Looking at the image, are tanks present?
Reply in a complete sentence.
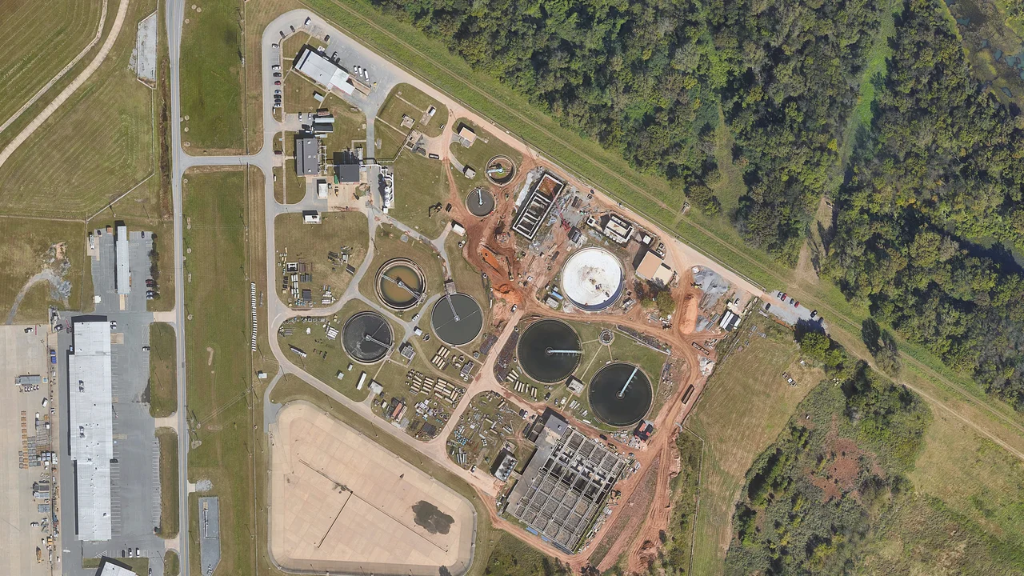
Yes, this view includes a tank.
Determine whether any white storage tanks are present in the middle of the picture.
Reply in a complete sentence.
Yes, a white storage tank appears in the middle of the picture.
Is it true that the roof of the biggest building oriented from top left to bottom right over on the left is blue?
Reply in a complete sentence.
No, the roof of the biggest building oriented from top left to bottom right over on the left is actually white.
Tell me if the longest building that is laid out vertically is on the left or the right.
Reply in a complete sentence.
The longest building that is laid out vertically sits on the left side.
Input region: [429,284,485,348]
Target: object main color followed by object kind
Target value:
gray storage tank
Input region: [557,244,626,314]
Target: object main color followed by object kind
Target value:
white storage tank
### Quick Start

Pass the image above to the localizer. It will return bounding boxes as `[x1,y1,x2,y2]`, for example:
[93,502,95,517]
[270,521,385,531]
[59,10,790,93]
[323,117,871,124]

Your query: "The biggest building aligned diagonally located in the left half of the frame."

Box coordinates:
[295,48,357,98]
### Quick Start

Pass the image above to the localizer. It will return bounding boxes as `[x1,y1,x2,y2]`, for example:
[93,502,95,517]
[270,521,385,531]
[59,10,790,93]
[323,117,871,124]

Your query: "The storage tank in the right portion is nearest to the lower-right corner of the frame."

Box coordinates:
[587,361,654,428]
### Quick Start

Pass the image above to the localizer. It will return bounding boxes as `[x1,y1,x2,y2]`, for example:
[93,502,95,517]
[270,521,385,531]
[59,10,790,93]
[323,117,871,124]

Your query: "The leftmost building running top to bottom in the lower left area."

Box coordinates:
[67,321,113,540]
